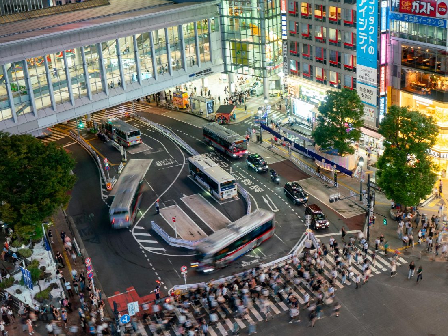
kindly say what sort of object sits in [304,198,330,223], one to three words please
car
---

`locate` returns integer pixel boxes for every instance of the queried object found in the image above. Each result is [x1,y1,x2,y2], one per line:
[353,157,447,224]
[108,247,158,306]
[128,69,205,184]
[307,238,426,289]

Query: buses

[195,119,249,156]
[111,169,150,226]
[94,112,142,144]
[186,148,238,196]
[181,205,278,272]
